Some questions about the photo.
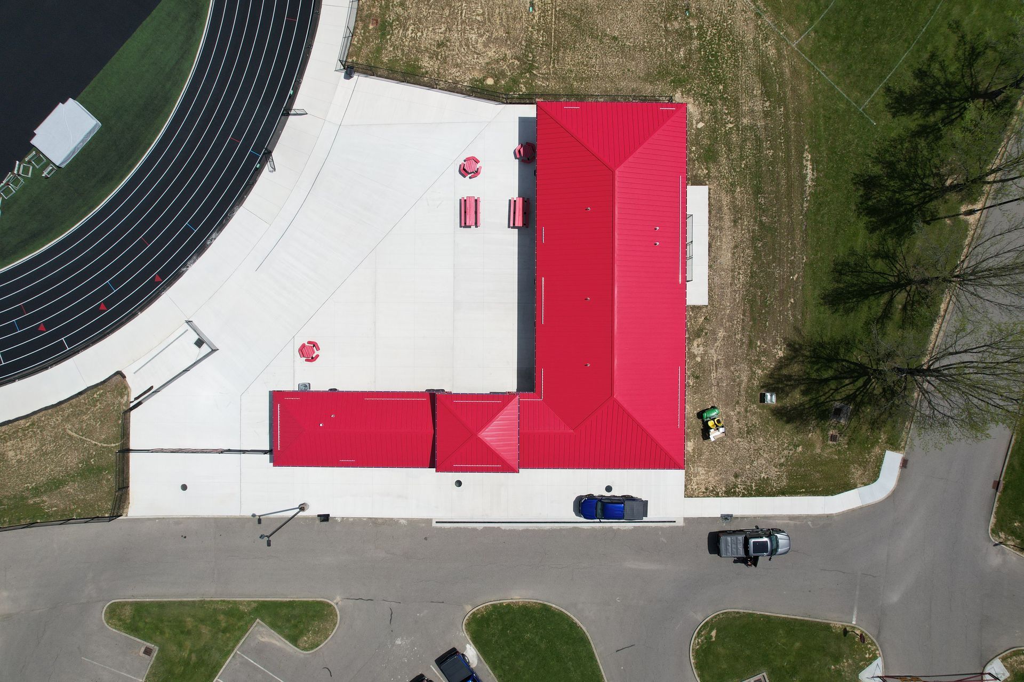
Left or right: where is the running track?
left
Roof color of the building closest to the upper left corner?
red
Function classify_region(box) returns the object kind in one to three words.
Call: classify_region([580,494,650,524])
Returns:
truck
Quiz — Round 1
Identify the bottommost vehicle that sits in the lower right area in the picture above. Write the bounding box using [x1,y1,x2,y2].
[713,528,787,567]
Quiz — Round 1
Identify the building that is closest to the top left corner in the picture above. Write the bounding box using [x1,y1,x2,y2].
[271,101,688,474]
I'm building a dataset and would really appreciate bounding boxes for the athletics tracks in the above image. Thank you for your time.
[0,0,315,379]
